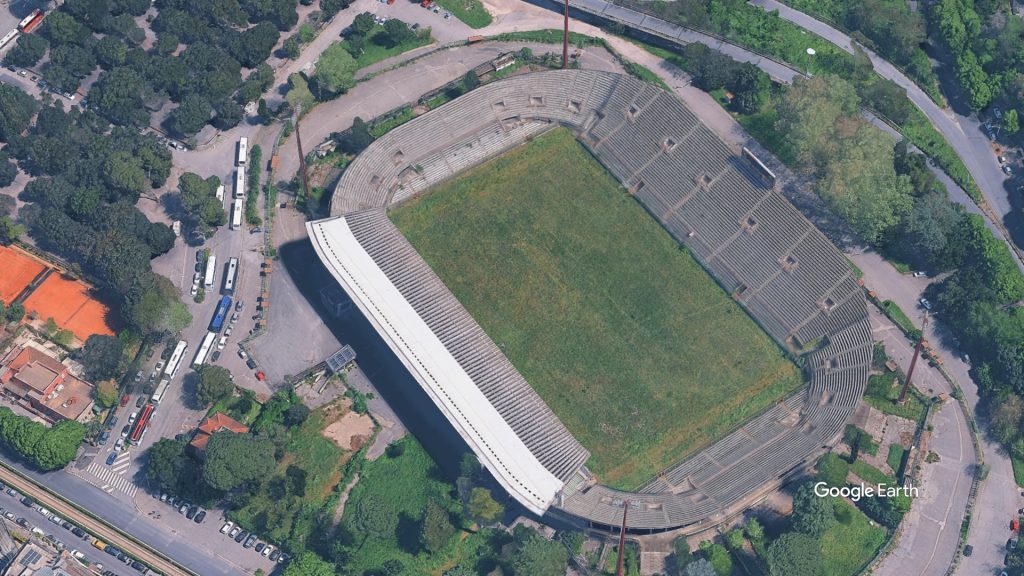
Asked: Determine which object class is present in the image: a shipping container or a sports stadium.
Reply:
sports stadium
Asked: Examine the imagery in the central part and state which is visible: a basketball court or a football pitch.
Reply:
football pitch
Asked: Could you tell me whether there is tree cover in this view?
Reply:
Yes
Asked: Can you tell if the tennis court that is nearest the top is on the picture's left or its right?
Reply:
left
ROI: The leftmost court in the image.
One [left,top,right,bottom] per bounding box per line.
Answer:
[0,240,46,305]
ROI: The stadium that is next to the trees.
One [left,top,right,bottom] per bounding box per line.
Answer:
[306,69,878,554]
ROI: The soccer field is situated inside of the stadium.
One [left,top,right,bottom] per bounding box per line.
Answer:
[389,128,805,490]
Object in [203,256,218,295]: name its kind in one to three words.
vehicle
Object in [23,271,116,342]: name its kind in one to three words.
tennis court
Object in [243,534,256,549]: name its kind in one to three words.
vehicle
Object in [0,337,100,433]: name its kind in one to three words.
house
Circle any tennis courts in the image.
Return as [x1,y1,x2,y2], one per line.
[23,271,116,342]
[0,240,46,305]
